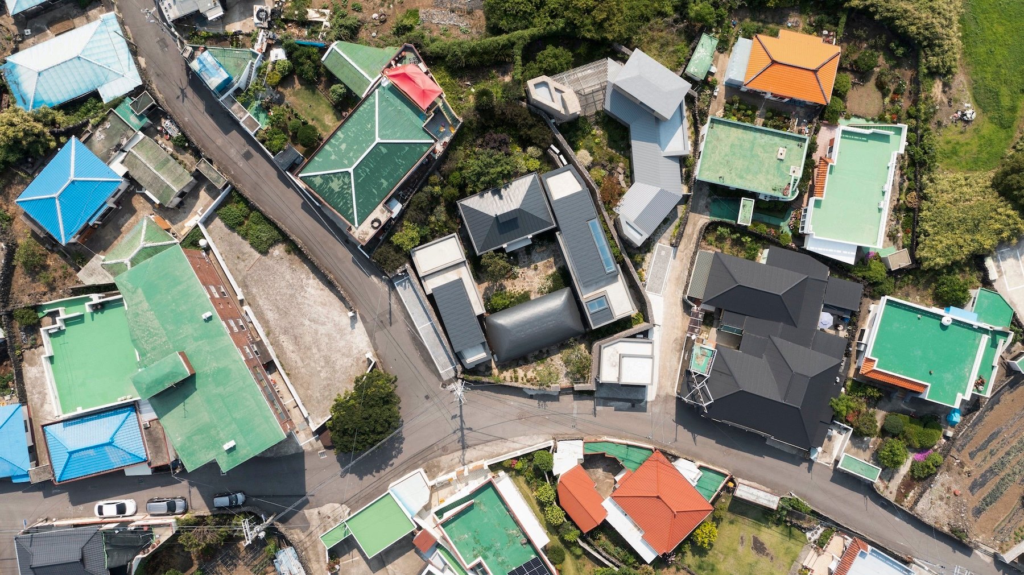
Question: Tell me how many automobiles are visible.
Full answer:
The count of automobiles comes to 3.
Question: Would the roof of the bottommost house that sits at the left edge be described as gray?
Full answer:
Yes, gray is the color of the roof of the bottommost house that sits at the left edge.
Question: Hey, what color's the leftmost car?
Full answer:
The leftmost car looks white in the image.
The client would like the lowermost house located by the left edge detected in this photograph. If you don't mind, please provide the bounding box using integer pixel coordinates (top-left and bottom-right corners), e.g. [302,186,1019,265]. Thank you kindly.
[13,523,120,575]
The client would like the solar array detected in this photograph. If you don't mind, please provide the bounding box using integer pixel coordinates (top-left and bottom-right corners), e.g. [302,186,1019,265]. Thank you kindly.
[508,554,547,575]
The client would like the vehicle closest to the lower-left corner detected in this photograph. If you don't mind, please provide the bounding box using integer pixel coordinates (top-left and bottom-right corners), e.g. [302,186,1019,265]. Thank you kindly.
[94,496,139,517]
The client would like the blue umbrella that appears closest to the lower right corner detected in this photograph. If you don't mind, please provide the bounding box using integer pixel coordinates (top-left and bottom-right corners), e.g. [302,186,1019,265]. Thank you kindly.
[945,410,960,424]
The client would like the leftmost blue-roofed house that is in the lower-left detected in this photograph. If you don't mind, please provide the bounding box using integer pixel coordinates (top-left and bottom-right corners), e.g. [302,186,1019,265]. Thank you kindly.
[0,403,42,476]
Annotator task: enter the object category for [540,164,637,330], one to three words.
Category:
house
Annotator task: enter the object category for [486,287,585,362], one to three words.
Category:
building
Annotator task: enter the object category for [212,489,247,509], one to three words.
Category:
car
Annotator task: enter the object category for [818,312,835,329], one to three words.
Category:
umbrella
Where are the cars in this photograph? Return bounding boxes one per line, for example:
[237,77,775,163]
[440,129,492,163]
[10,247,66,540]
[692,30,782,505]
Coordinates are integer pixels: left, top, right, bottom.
[212,489,247,509]
[145,494,190,516]
[94,496,139,517]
